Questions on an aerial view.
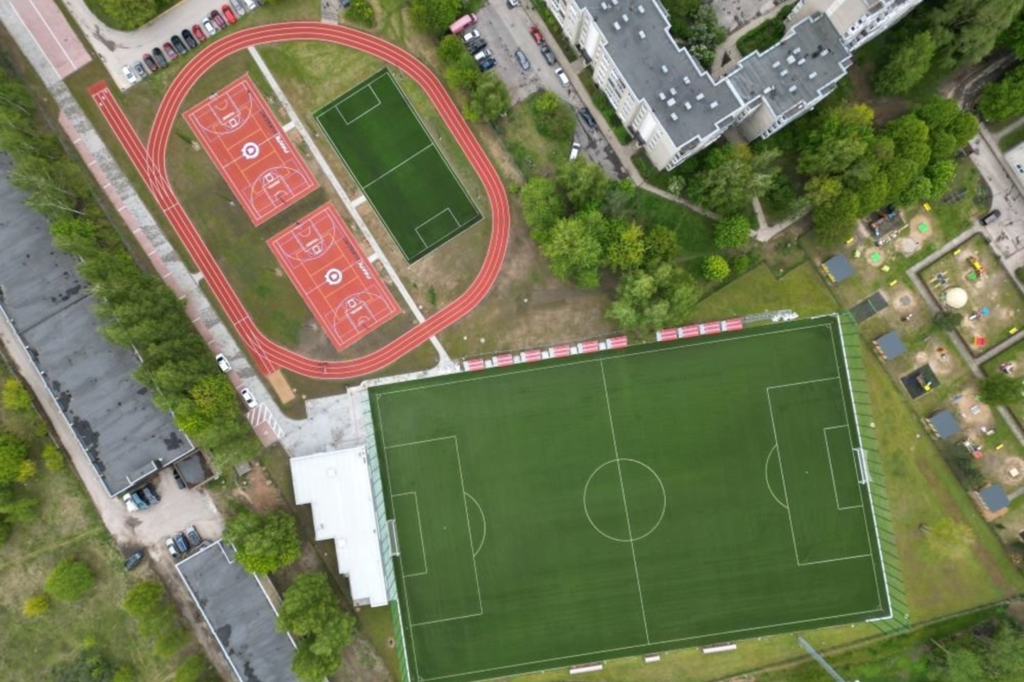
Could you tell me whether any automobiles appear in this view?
Yes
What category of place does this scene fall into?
sports ground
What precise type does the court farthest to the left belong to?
basketball court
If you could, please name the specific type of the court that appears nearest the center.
basketball court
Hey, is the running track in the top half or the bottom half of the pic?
top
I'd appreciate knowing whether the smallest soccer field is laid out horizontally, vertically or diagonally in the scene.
diagonally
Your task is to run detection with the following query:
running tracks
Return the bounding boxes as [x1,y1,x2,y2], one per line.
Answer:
[88,21,510,379]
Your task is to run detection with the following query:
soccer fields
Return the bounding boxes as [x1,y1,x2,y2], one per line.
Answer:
[312,66,484,264]
[369,316,889,682]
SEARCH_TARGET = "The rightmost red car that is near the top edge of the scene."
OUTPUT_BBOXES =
[529,27,544,45]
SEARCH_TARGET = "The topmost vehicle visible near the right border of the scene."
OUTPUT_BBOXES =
[979,209,1001,225]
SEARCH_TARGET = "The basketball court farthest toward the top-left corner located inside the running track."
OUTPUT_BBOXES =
[182,74,320,227]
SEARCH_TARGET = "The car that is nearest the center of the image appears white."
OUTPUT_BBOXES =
[569,140,581,162]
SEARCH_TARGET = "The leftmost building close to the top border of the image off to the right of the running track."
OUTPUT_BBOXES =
[557,0,743,173]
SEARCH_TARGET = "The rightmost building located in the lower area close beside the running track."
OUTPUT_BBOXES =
[290,445,391,609]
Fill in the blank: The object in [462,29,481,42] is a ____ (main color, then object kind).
white vehicle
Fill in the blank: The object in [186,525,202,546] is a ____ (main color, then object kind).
gray car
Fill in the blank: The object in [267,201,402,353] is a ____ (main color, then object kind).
red basketball court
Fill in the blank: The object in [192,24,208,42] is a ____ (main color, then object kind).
red car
